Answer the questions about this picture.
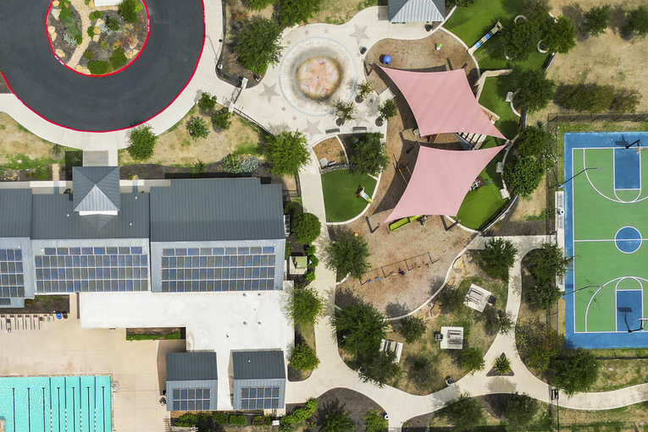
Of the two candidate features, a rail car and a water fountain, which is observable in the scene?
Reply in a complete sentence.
Of the two, only a water fountain appears.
